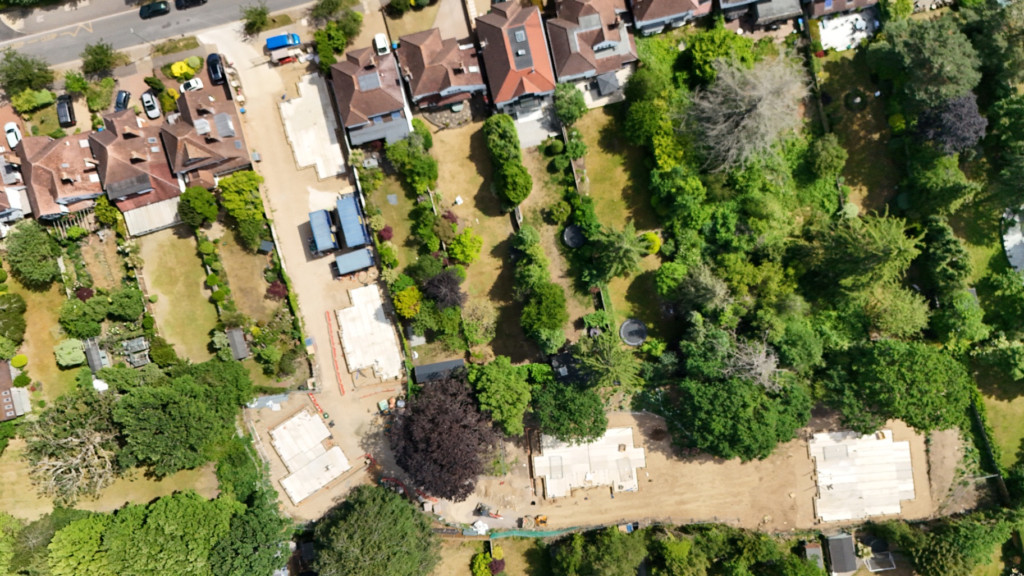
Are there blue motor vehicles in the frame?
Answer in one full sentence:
Yes, a blue motor vehicle is visible in the scene.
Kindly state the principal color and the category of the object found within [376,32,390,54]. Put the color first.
white car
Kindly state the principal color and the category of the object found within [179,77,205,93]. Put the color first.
white car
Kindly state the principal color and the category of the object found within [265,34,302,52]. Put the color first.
blue vehicle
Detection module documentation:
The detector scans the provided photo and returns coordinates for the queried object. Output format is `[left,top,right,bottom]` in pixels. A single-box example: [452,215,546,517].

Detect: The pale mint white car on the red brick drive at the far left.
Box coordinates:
[5,121,22,149]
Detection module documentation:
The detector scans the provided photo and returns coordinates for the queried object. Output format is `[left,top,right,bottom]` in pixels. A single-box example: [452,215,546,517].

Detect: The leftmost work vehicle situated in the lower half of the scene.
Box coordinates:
[477,501,506,520]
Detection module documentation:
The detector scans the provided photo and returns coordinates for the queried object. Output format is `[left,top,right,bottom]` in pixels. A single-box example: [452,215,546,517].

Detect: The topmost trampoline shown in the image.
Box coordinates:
[563,226,584,247]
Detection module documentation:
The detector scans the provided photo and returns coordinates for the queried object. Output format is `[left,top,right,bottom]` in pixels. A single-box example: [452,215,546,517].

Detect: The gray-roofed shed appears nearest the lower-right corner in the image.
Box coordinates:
[823,532,857,573]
